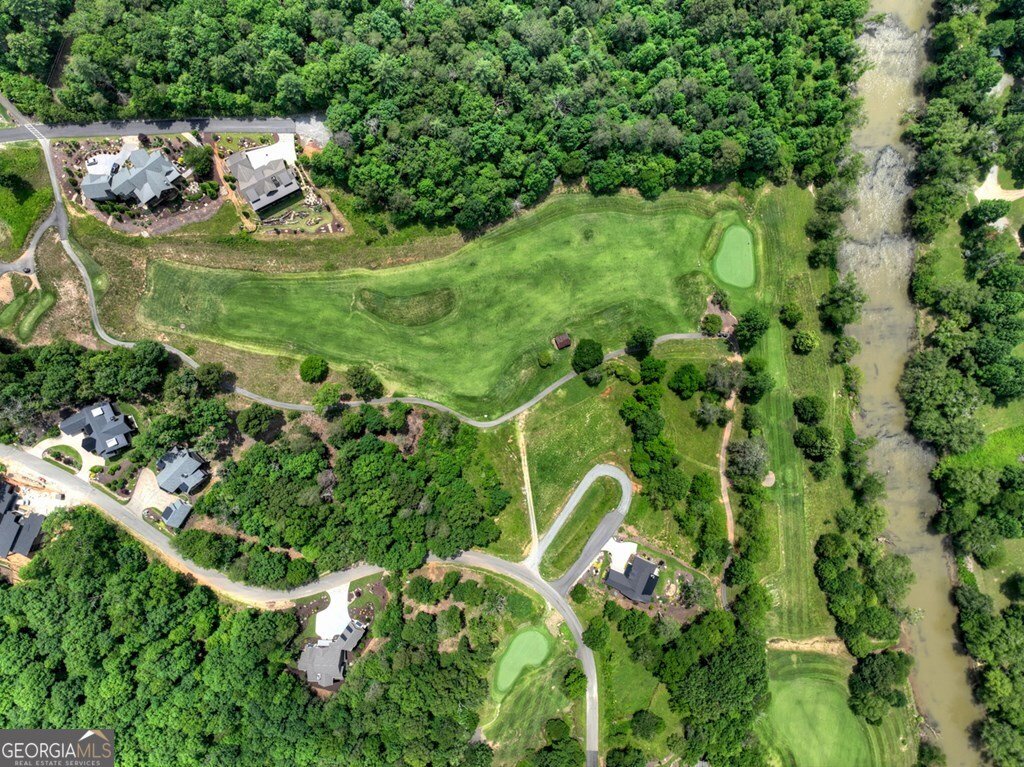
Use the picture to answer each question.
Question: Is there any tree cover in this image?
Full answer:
Yes, tree cover can be seen from above here.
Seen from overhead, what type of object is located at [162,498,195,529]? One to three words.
building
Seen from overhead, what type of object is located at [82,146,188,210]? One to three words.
house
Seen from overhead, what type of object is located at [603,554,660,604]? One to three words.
house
